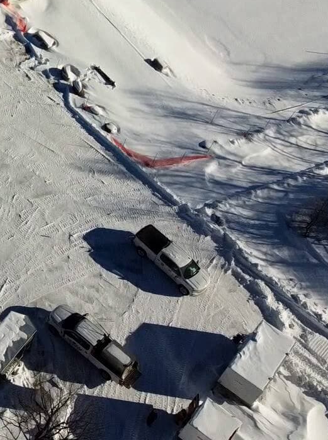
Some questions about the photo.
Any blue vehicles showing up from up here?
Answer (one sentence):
No, there appears to be no blue vehicle in this shot.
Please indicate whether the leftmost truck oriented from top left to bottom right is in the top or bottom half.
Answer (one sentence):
It is in the bottom half that the leftmost truck oriented from top left to bottom right appears.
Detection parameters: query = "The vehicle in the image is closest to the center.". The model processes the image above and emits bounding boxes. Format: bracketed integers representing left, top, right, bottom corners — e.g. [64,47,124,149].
[127,225,211,301]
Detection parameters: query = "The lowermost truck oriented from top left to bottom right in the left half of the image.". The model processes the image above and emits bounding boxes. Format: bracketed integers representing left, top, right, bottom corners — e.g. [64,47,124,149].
[39,298,151,393]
